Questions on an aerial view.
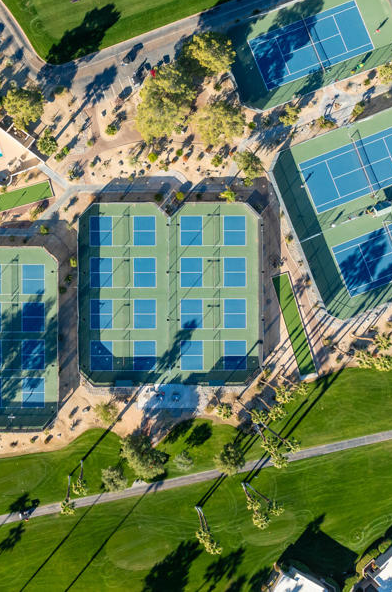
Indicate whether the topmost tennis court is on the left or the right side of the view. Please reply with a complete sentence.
The topmost tennis court sits on the right side.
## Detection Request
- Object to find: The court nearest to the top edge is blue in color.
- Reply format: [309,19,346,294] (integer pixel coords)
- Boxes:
[230,0,392,109]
